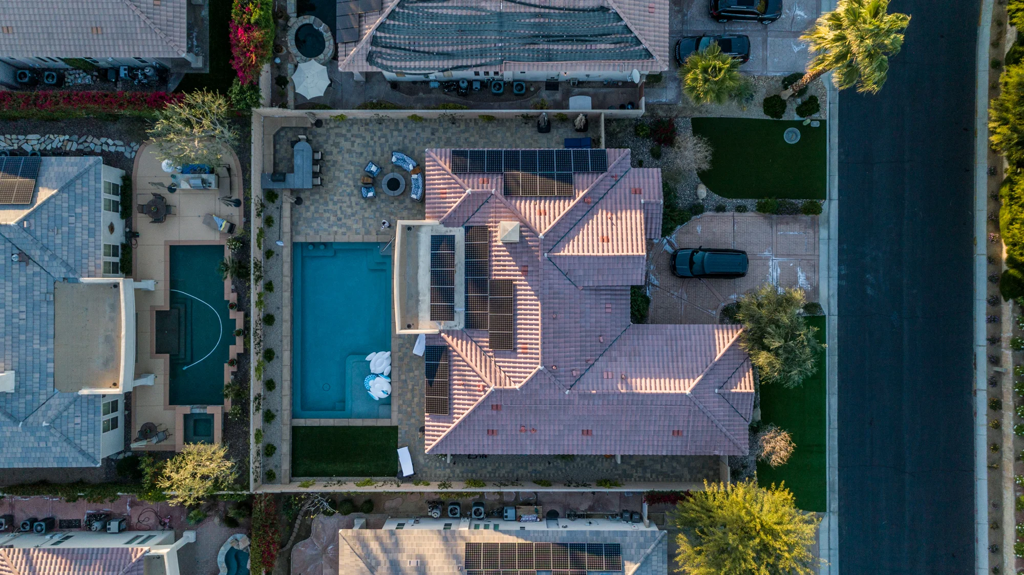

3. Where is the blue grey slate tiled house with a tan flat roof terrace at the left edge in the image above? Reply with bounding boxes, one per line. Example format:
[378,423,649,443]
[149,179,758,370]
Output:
[0,155,154,469]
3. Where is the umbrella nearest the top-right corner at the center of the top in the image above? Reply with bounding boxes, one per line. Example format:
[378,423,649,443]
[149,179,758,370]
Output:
[574,114,588,133]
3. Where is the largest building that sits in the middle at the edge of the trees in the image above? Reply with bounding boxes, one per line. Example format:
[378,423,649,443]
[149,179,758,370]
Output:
[395,147,755,473]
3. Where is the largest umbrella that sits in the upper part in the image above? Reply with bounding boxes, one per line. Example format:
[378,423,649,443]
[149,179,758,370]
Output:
[294,61,331,97]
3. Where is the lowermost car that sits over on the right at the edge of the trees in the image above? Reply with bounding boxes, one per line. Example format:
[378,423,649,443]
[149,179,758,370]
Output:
[671,244,749,282]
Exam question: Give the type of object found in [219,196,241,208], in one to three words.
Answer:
umbrella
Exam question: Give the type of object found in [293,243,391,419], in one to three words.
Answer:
swimming pool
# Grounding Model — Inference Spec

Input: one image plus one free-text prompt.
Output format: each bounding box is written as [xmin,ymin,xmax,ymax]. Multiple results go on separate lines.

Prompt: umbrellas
[306,113,324,128]
[285,194,304,205]
[294,61,331,97]
[131,436,158,447]
[149,182,176,192]
[219,196,241,208]
[574,114,588,133]
[537,113,551,133]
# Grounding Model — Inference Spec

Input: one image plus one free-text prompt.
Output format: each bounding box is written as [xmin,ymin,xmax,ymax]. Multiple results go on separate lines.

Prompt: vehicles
[674,29,750,68]
[671,244,749,282]
[712,0,787,23]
